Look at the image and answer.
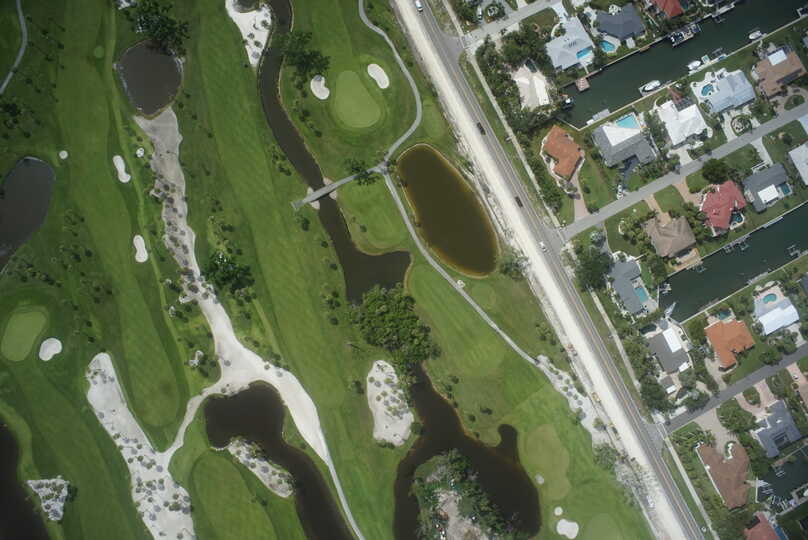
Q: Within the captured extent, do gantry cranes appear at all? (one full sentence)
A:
No, the photo shows no gantry crane.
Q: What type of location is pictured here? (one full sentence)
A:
What you see here is a golf course.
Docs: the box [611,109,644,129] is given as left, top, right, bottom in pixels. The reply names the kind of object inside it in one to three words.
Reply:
swimming pool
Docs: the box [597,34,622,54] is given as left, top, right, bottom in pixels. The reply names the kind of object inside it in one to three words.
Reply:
swimming pool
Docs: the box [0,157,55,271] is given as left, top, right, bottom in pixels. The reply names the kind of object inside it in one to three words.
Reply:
pond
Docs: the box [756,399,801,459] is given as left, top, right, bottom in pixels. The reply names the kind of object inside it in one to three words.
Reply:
house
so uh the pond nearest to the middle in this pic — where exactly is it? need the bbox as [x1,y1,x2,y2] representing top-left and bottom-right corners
[397,144,499,276]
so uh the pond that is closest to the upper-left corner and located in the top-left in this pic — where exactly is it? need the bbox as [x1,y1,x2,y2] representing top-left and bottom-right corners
[118,39,182,118]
